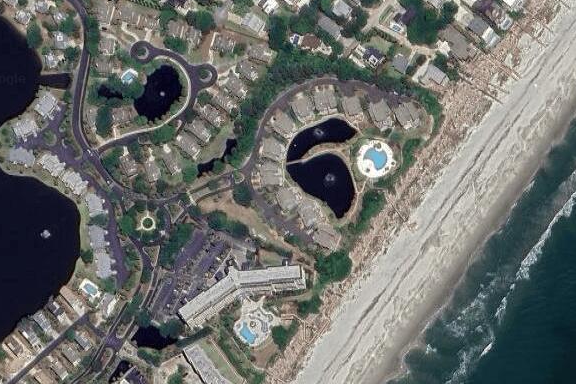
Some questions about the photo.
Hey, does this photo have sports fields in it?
No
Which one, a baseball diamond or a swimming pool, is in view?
swimming pool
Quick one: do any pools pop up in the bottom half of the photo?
Yes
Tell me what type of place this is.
residential area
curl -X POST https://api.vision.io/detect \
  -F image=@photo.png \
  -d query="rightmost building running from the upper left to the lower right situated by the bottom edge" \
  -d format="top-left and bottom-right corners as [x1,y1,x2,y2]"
[182,343,220,384]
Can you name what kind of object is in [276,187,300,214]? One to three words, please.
house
